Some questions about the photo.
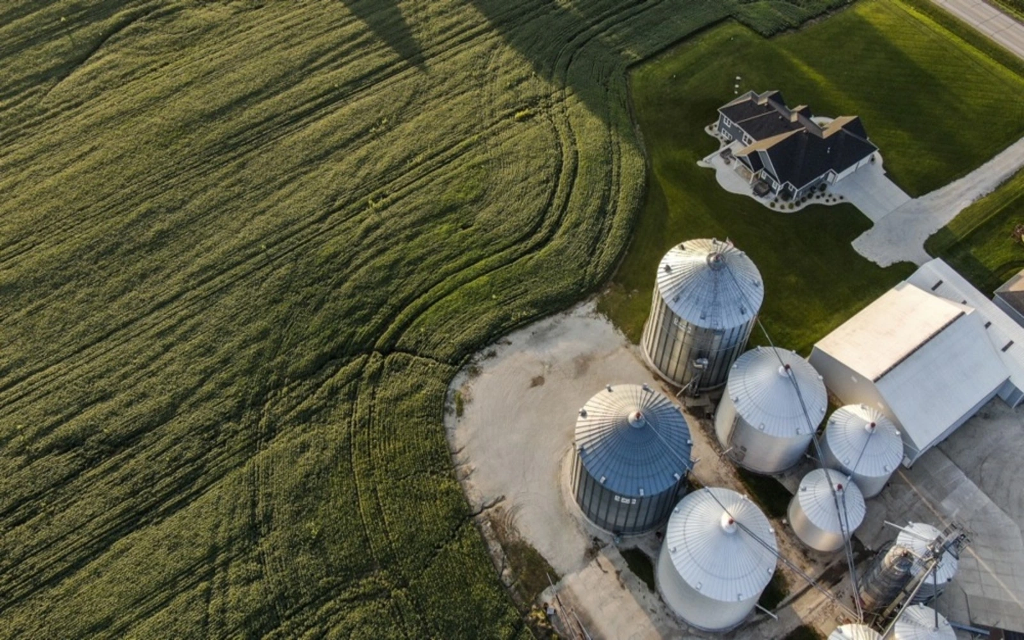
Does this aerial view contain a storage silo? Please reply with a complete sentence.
Yes, a storage silo is visible in the scene.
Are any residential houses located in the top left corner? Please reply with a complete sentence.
No, there's no residential house to be seen in the top left corner.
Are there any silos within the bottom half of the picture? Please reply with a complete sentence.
Yes, a silo appears within the bottom half of the picture.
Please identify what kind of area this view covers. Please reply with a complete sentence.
What you see here is farmland.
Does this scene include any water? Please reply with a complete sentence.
No, the scene doesn't show any water.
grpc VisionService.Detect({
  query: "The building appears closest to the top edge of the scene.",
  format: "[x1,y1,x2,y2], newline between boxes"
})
[716,89,879,203]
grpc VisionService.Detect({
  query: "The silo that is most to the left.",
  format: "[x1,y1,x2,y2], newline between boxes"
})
[564,383,695,538]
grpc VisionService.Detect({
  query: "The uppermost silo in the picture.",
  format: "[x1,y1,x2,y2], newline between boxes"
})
[642,235,765,390]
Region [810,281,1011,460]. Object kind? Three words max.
barn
